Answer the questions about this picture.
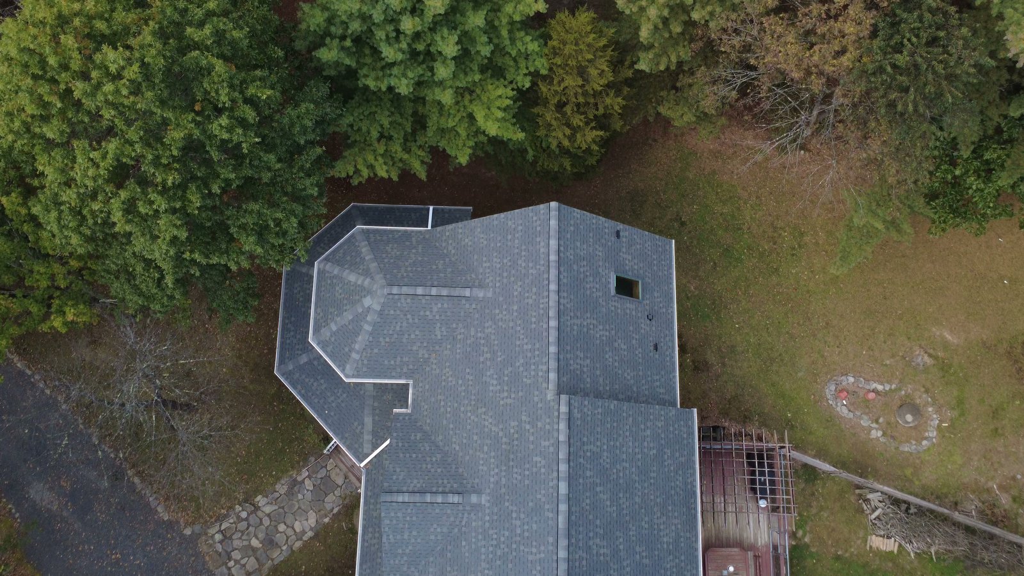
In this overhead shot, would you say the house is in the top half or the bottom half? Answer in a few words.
bottom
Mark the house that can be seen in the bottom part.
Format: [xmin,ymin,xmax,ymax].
[272,200,705,576]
